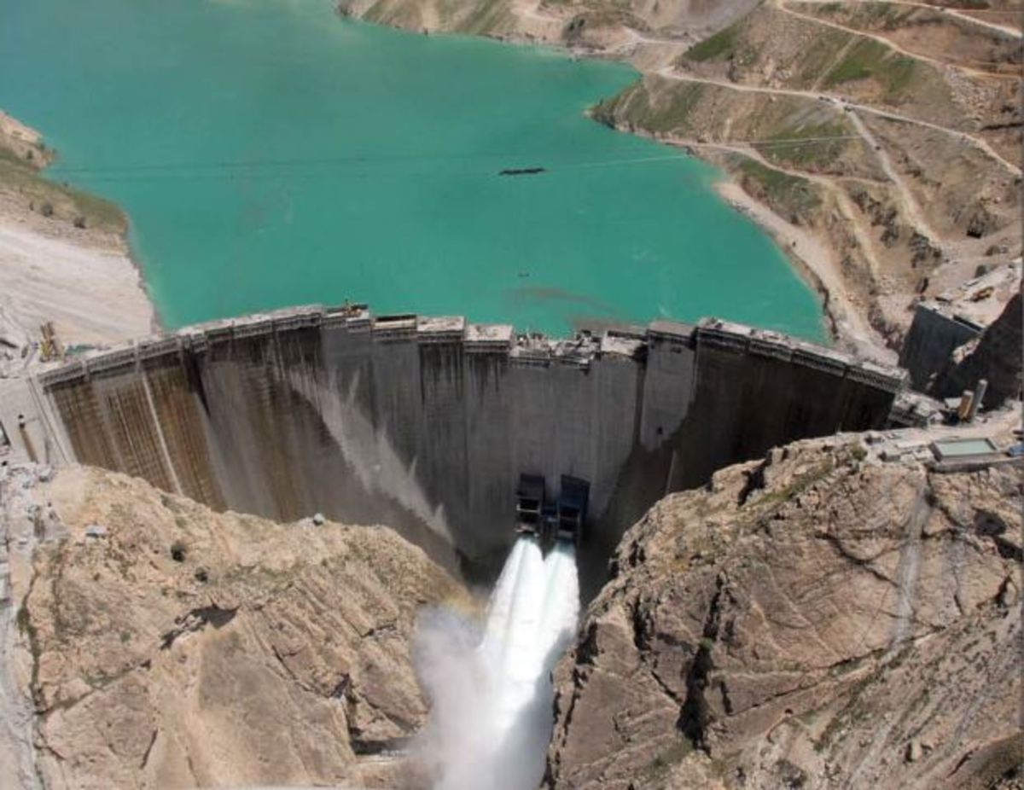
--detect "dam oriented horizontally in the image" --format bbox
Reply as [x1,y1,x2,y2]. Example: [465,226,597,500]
[35,302,910,597]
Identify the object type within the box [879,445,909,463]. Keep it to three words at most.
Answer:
building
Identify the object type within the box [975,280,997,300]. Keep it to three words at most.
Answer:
work vehicle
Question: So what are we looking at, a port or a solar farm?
port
